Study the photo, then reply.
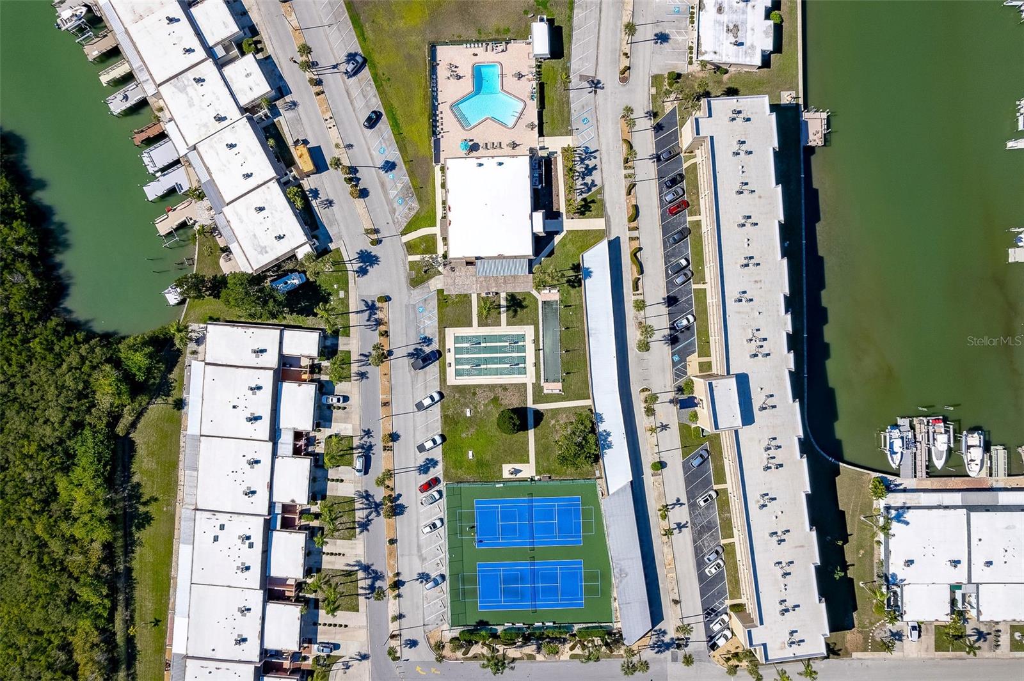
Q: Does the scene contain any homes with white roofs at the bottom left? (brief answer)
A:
Yes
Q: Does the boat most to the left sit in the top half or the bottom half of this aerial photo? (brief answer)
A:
top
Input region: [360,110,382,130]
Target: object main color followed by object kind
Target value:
black car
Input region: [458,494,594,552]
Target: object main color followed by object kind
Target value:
blue tennis court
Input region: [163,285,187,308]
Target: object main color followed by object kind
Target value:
white boat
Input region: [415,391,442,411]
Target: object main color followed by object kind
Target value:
white vehicle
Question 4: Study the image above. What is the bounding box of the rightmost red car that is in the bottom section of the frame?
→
[417,475,440,493]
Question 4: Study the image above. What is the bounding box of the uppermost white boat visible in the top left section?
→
[51,8,88,29]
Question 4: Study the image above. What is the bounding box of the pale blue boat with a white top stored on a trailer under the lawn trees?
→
[271,275,307,292]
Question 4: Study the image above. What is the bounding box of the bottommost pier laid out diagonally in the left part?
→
[152,197,197,237]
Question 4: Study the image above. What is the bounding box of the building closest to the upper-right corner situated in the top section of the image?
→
[694,0,773,73]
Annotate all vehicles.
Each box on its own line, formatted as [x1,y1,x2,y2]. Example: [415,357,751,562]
[360,110,382,130]
[420,489,443,507]
[423,573,446,591]
[667,257,690,276]
[292,138,314,172]
[662,172,685,189]
[673,313,696,331]
[322,395,345,405]
[417,475,440,493]
[673,269,693,286]
[688,449,710,469]
[707,612,730,632]
[703,557,725,577]
[906,621,919,643]
[662,186,685,205]
[703,544,724,564]
[415,391,442,411]
[313,642,336,652]
[707,627,733,650]
[416,434,443,453]
[412,350,440,369]
[694,488,716,508]
[351,454,365,477]
[658,146,681,163]
[668,226,690,245]
[666,199,689,217]
[420,517,444,535]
